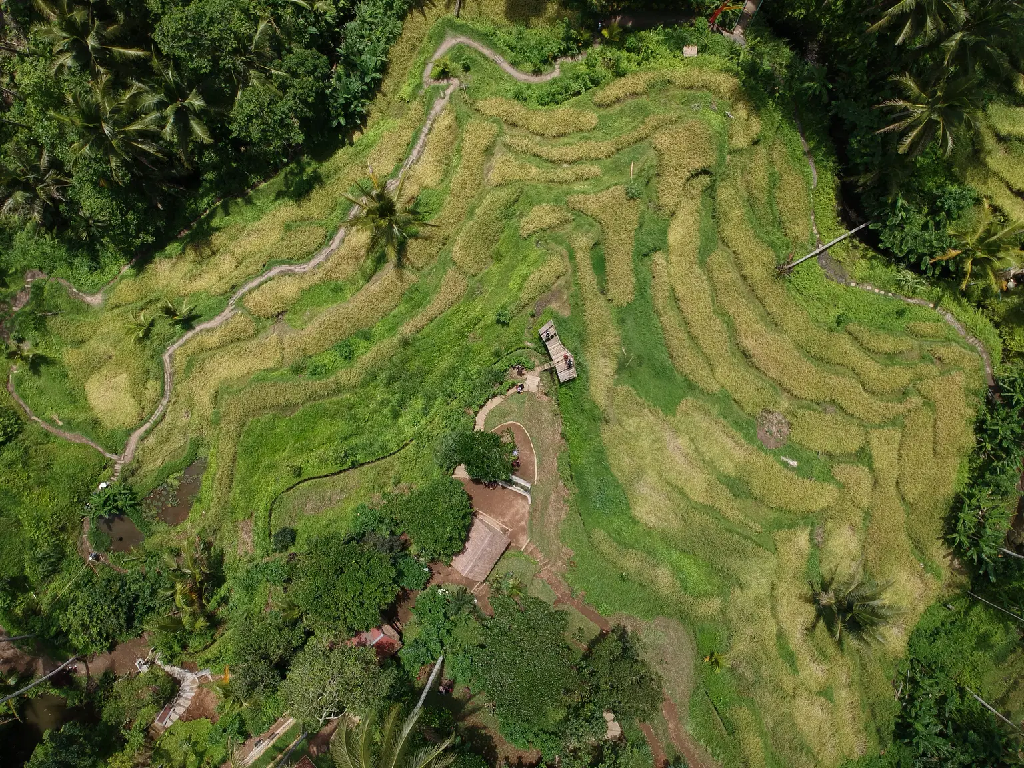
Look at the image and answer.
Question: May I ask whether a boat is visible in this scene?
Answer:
No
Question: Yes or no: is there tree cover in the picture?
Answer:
Yes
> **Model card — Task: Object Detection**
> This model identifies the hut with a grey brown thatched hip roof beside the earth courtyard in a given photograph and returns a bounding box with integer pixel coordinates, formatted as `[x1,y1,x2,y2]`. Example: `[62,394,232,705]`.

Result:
[449,514,512,582]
